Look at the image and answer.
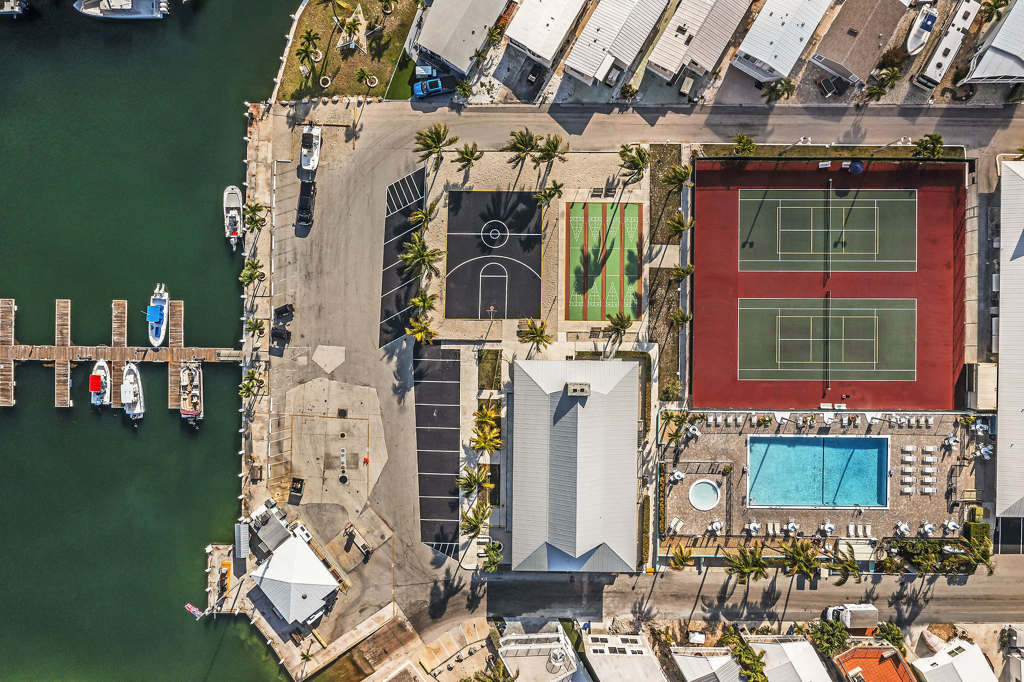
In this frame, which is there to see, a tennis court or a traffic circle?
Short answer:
tennis court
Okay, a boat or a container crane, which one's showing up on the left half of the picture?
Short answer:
boat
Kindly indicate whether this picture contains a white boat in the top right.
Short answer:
Yes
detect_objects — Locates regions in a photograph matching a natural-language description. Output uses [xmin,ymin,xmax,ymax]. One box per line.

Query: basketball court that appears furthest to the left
[444,190,543,321]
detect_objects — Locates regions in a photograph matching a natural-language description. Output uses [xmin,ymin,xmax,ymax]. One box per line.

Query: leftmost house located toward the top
[418,0,509,78]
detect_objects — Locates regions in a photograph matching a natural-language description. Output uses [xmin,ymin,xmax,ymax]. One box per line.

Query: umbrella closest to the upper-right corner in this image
[854,155,872,170]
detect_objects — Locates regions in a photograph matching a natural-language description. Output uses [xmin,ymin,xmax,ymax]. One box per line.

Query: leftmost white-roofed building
[250,497,352,625]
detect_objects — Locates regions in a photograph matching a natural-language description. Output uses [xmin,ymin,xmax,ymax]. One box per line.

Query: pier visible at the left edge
[0,298,235,409]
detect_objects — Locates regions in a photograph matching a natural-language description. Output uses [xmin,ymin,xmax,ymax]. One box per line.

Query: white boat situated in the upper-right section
[908,0,943,58]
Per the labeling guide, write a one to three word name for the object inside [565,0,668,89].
house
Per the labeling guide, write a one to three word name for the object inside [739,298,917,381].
tennis court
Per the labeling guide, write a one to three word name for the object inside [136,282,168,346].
boat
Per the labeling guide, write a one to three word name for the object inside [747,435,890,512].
swimming pool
